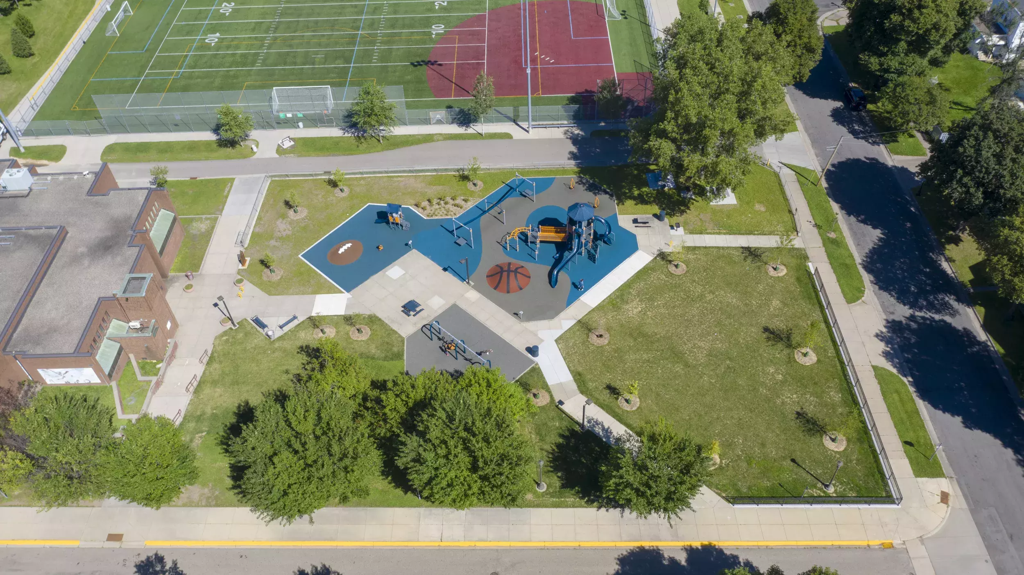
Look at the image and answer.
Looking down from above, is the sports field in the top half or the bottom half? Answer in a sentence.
Seen from above, the sports field lies in the top half of the view.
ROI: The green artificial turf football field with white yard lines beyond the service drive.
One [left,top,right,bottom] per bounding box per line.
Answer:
[22,0,663,134]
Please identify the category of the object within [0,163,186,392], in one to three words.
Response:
building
